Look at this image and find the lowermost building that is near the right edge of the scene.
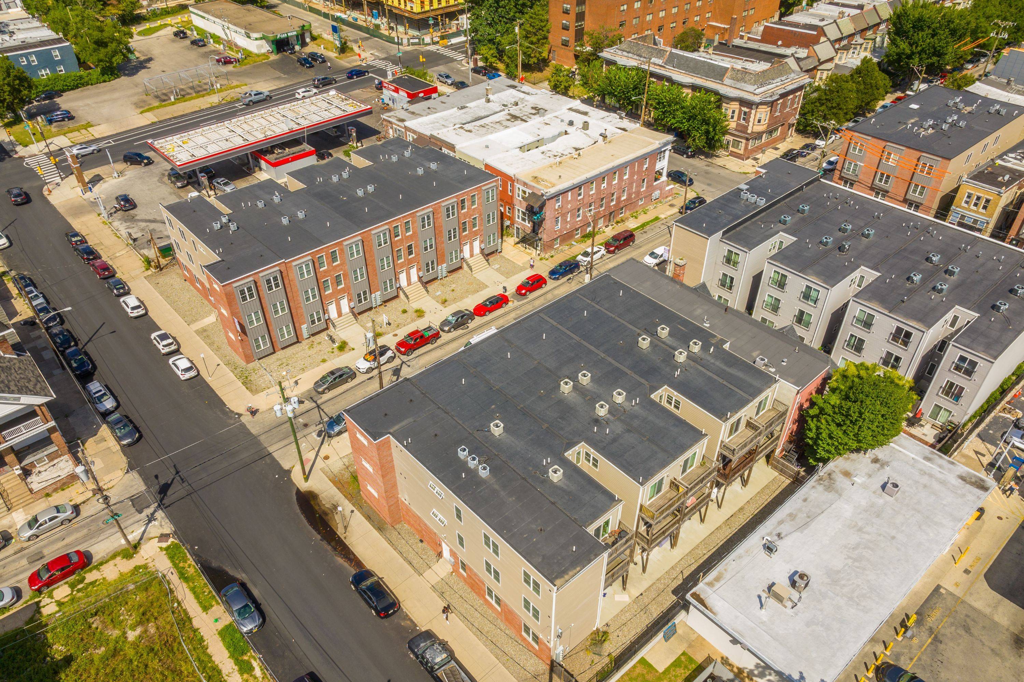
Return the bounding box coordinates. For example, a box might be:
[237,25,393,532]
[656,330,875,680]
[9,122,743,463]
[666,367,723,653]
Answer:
[678,431,1002,682]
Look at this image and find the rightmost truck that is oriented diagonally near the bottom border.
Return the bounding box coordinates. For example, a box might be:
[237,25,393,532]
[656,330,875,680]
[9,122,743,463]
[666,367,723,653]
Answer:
[406,627,472,682]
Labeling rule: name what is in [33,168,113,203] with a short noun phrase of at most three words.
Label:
gas station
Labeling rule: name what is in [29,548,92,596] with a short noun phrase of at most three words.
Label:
car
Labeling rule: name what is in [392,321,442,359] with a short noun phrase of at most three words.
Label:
truck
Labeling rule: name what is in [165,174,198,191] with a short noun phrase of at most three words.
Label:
car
